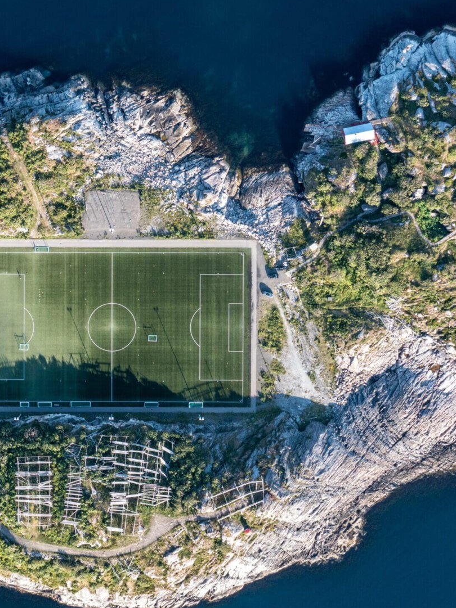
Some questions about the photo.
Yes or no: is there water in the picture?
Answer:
Yes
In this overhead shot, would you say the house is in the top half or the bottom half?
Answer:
top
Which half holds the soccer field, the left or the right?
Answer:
left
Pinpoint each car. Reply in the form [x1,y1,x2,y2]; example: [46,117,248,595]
[268,273,279,279]
[262,289,274,299]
